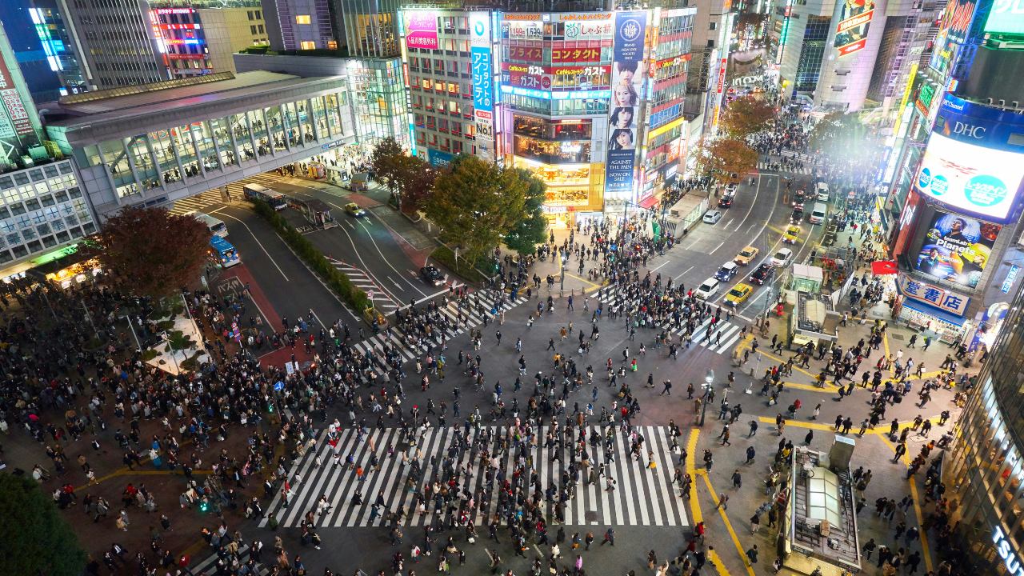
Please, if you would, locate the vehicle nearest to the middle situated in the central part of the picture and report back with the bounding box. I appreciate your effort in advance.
[419,260,446,282]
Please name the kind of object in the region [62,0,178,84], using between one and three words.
building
